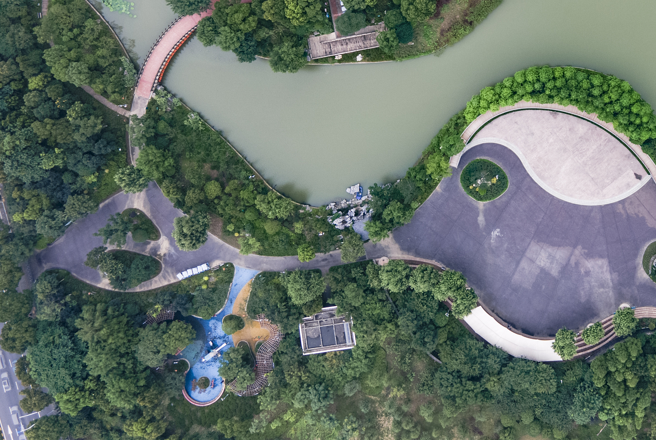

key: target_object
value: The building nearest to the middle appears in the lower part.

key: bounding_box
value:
[299,305,358,358]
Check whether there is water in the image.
Yes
